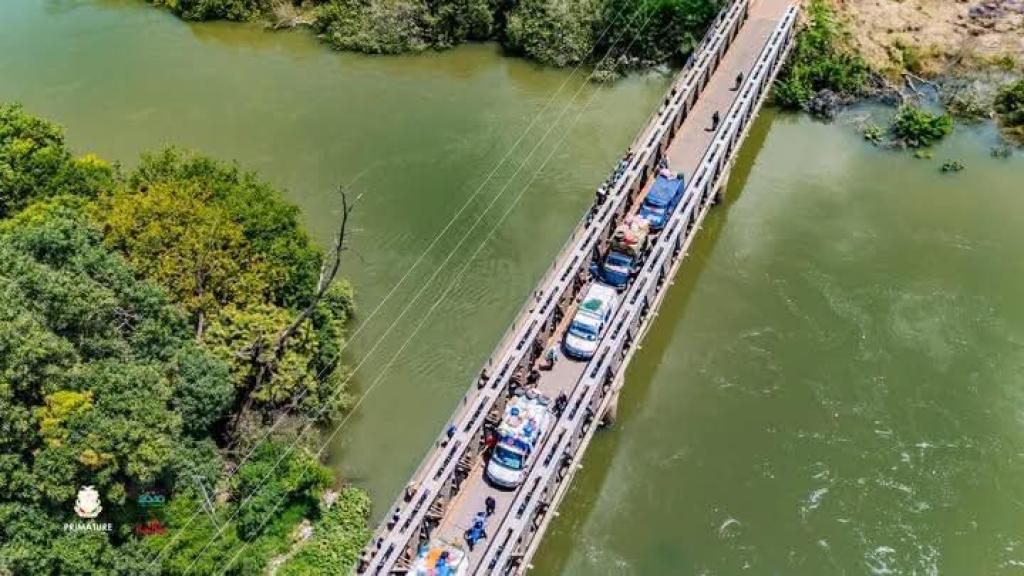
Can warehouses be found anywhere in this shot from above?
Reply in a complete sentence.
No, there isn't any warehouse down there.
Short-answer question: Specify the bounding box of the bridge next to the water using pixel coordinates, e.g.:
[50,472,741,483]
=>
[344,0,811,576]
